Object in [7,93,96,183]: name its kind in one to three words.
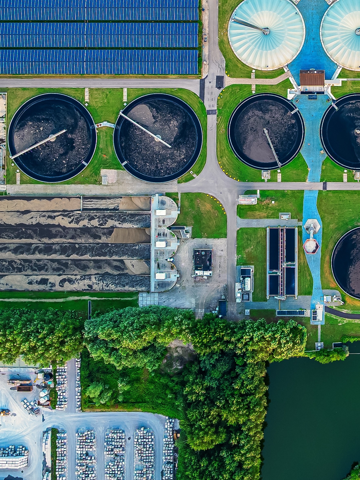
storage tank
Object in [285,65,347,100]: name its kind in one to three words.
building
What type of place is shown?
industrial area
